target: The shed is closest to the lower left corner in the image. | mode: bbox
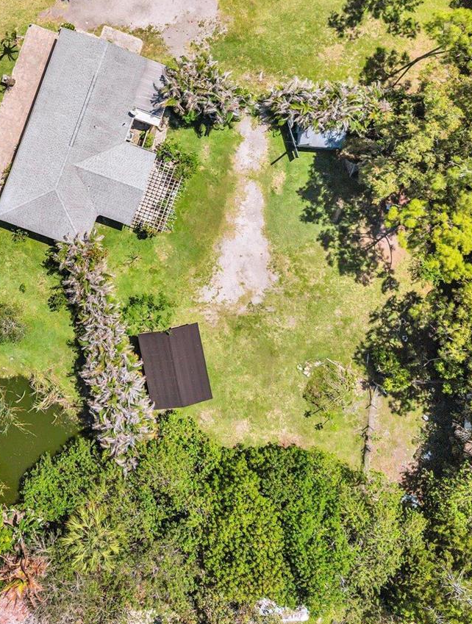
[138,322,212,409]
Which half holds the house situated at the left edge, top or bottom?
top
